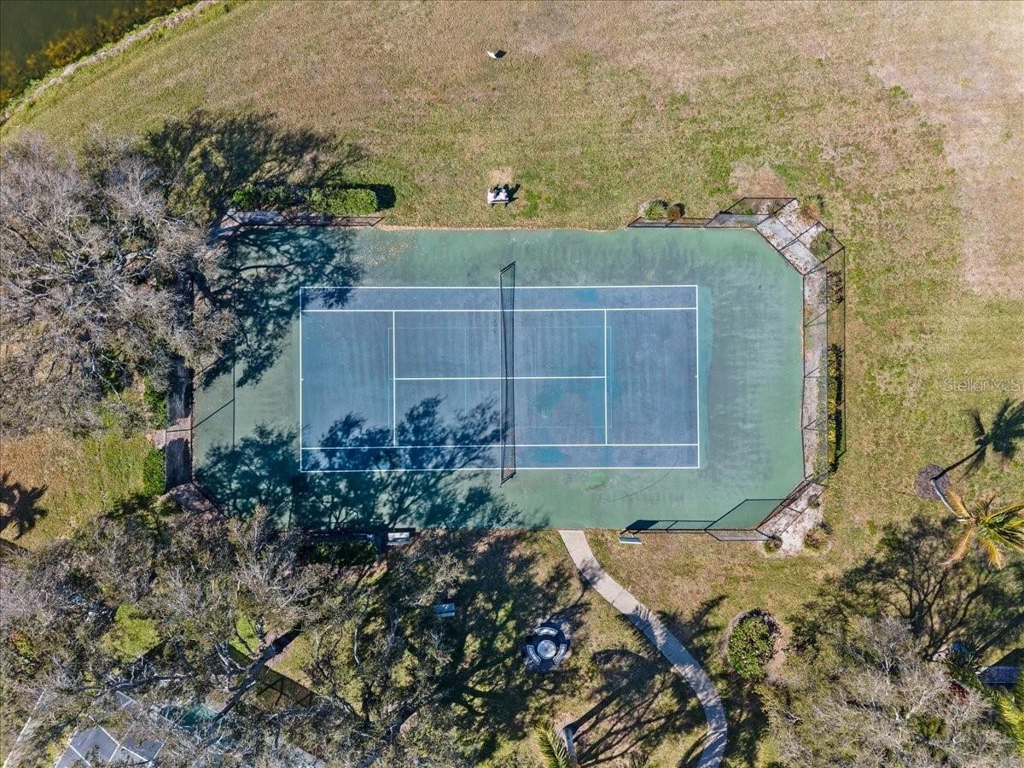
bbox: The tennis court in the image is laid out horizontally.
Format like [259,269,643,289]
[193,228,805,531]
